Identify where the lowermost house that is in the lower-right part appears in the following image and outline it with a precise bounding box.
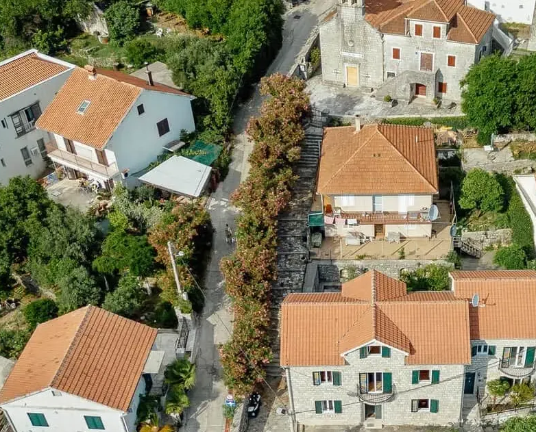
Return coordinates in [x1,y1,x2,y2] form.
[281,259,536,432]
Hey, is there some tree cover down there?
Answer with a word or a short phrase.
Yes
